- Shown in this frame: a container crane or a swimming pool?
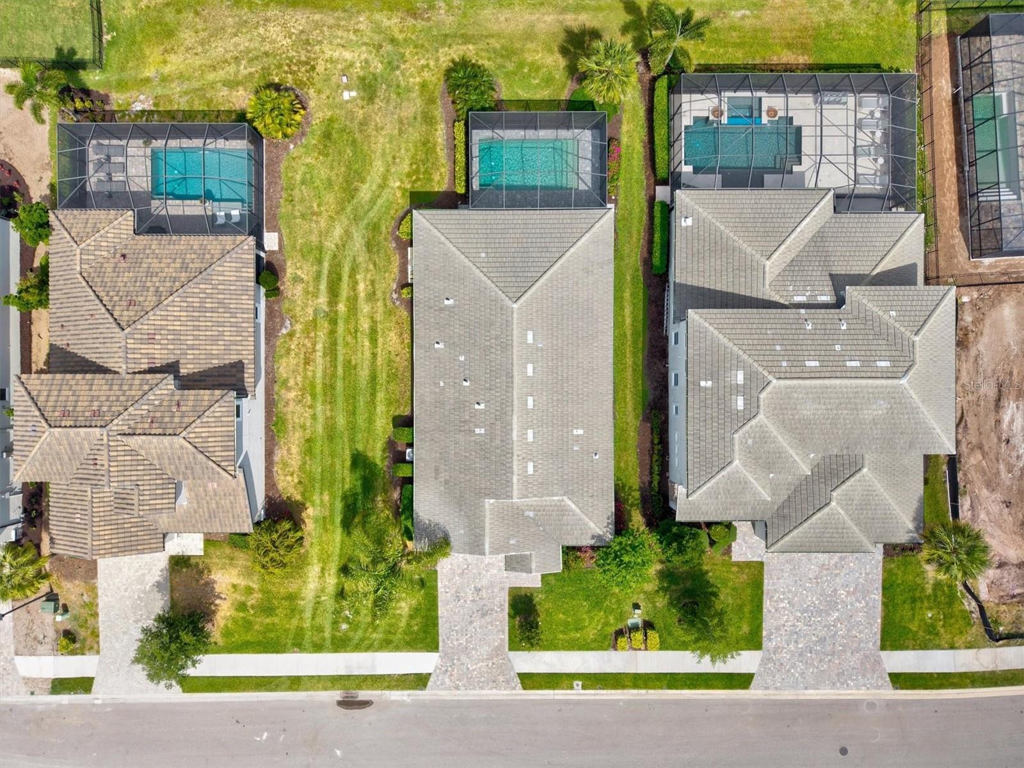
swimming pool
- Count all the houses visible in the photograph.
3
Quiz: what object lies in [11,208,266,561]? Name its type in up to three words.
house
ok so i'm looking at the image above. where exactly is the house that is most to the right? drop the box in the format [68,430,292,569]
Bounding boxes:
[669,188,958,554]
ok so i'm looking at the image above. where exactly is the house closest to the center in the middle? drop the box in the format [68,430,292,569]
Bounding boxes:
[411,208,615,576]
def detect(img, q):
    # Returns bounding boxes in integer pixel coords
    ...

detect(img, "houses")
[669,188,958,554]
[411,208,615,576]
[11,208,266,561]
